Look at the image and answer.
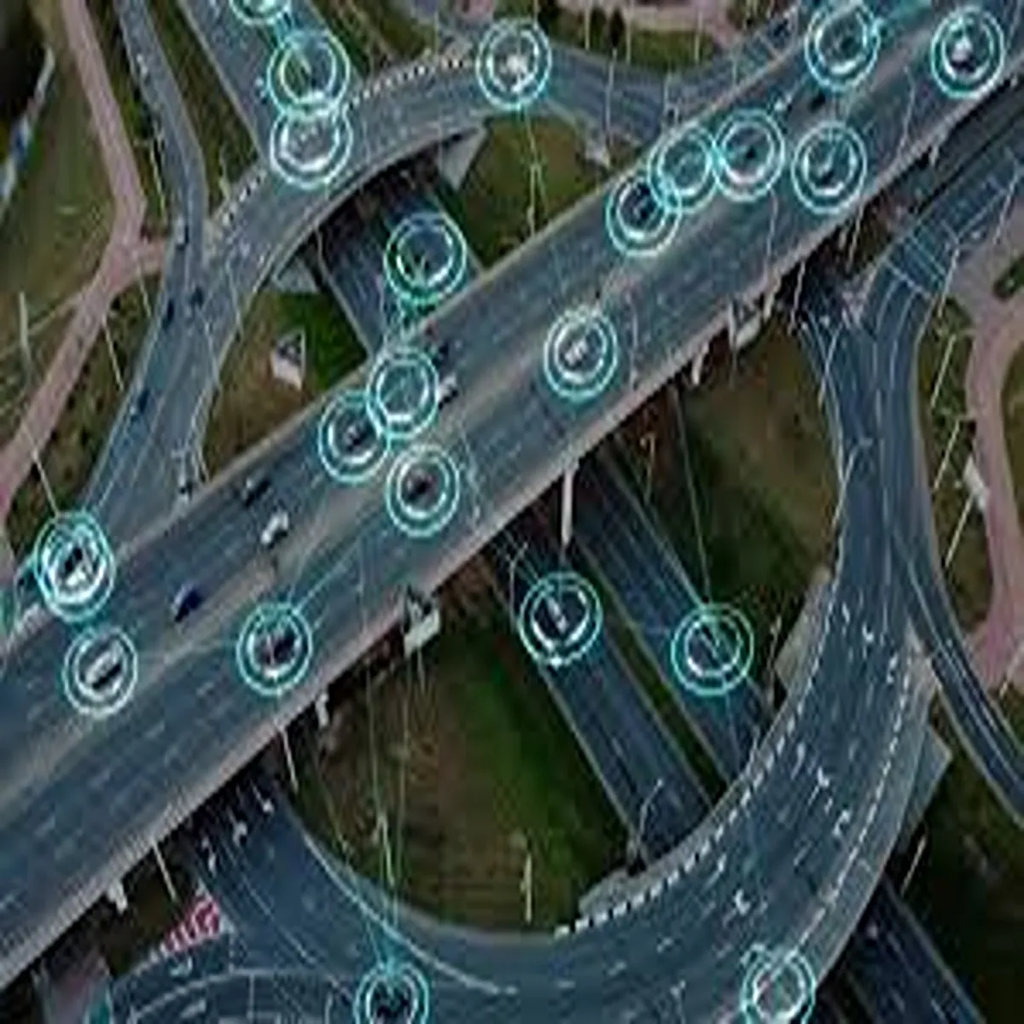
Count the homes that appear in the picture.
0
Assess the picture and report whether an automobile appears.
Yes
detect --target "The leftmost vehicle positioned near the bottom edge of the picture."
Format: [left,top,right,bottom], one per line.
[368,980,417,1016]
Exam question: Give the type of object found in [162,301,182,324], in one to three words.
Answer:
car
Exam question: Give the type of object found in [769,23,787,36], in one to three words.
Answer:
vehicle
